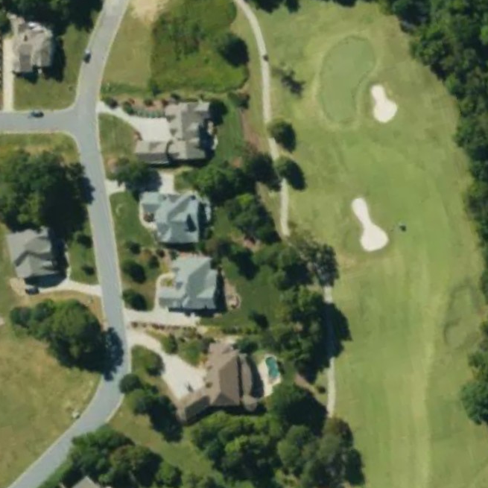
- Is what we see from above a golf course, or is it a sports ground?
golf course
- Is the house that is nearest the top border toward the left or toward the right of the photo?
left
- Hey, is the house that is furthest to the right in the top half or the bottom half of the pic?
bottom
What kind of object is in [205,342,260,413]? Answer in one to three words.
house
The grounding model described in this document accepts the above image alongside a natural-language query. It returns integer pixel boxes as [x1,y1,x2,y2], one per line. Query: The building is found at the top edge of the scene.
[13,23,54,73]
